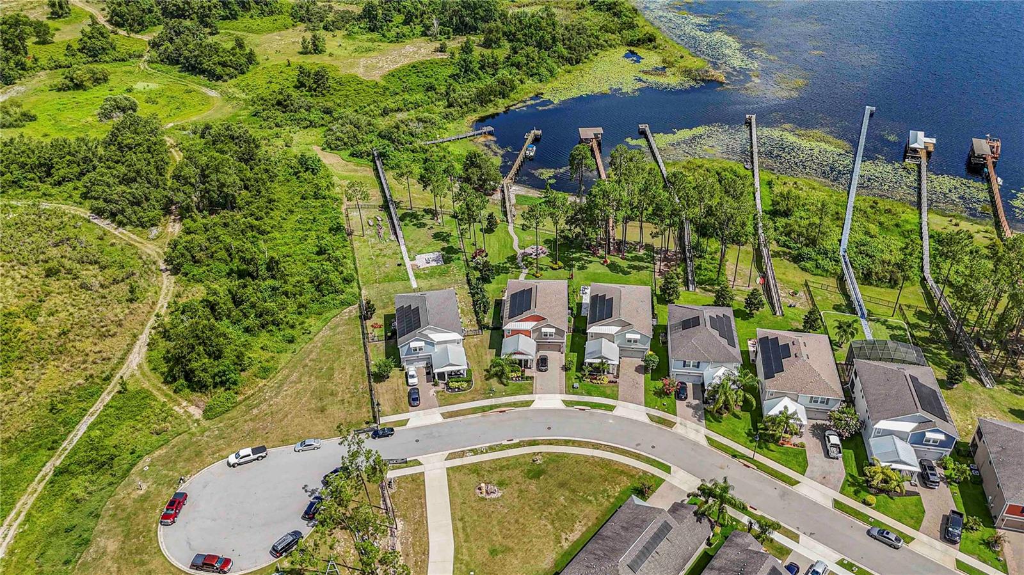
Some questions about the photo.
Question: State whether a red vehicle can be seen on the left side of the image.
Yes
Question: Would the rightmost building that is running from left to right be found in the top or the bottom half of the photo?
top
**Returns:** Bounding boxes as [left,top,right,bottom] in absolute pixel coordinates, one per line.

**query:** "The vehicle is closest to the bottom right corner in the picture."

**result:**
[944,509,964,544]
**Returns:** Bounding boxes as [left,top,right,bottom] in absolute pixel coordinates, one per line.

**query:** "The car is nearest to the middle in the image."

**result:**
[537,353,549,372]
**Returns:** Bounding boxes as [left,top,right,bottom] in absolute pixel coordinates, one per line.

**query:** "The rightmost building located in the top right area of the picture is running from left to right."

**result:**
[966,141,1013,161]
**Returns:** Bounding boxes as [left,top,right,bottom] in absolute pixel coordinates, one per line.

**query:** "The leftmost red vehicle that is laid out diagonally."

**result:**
[160,491,188,524]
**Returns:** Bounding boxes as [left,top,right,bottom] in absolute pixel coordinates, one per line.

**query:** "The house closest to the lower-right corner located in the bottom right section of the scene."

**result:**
[961,417,1024,533]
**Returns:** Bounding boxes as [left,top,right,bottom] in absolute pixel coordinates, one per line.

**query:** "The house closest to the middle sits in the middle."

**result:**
[501,279,567,370]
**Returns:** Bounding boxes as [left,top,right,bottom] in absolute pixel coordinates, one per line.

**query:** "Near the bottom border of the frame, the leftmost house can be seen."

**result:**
[559,497,711,575]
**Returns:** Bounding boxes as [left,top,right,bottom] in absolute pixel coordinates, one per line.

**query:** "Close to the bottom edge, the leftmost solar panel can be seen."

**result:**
[627,521,672,574]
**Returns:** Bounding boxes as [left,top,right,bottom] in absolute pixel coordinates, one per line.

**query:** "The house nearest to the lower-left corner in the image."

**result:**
[392,288,468,384]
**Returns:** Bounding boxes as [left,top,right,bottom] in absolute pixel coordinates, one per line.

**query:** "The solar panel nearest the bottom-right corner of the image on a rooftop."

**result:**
[910,375,949,423]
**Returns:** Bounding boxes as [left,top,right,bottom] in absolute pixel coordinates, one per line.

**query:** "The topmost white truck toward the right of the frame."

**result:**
[823,430,844,457]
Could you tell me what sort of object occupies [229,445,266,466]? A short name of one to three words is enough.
truck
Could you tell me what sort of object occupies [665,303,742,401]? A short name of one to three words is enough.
house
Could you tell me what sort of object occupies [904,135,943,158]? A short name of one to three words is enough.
building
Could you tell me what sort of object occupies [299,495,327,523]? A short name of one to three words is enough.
car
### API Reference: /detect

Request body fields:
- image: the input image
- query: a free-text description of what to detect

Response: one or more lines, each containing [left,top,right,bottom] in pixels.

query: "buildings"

[904,135,943,158]
[966,141,1013,161]
[559,497,711,575]
[752,329,842,434]
[848,358,959,483]
[392,288,468,384]
[665,303,742,401]
[501,279,567,370]
[578,132,597,150]
[700,534,782,575]
[961,417,1024,533]
[584,282,652,374]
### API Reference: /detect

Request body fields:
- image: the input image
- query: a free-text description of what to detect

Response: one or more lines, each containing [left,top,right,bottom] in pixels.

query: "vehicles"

[188,553,234,574]
[406,367,418,385]
[537,353,549,372]
[676,381,688,401]
[229,445,266,466]
[944,509,964,544]
[823,430,844,457]
[268,531,304,558]
[783,557,802,575]
[293,438,323,453]
[408,387,420,407]
[368,425,397,441]
[160,491,188,524]
[866,526,904,550]
[919,461,942,486]
[299,495,327,523]
[806,555,832,575]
